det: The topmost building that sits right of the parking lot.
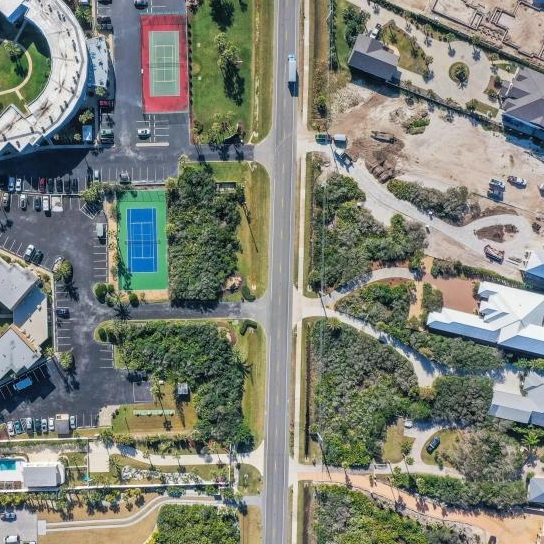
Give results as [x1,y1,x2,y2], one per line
[347,34,402,87]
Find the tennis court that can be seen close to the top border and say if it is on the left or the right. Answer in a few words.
left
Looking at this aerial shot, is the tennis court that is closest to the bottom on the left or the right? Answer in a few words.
left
